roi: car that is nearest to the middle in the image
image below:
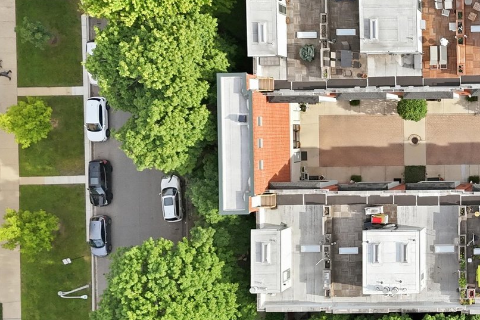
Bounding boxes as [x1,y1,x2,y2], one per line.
[157,175,185,222]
